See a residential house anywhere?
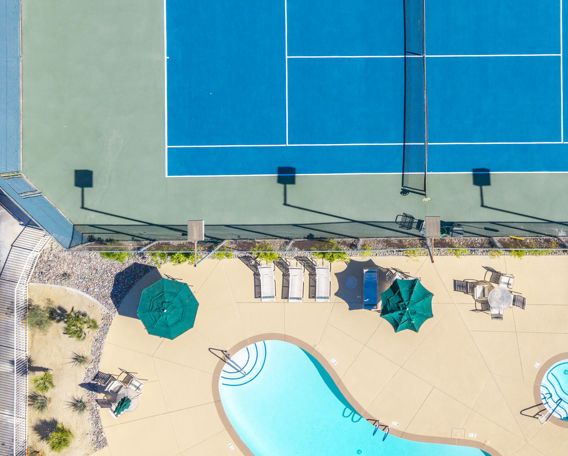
No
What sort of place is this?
sports ground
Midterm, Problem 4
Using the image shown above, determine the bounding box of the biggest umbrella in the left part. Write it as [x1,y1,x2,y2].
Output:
[137,278,199,340]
